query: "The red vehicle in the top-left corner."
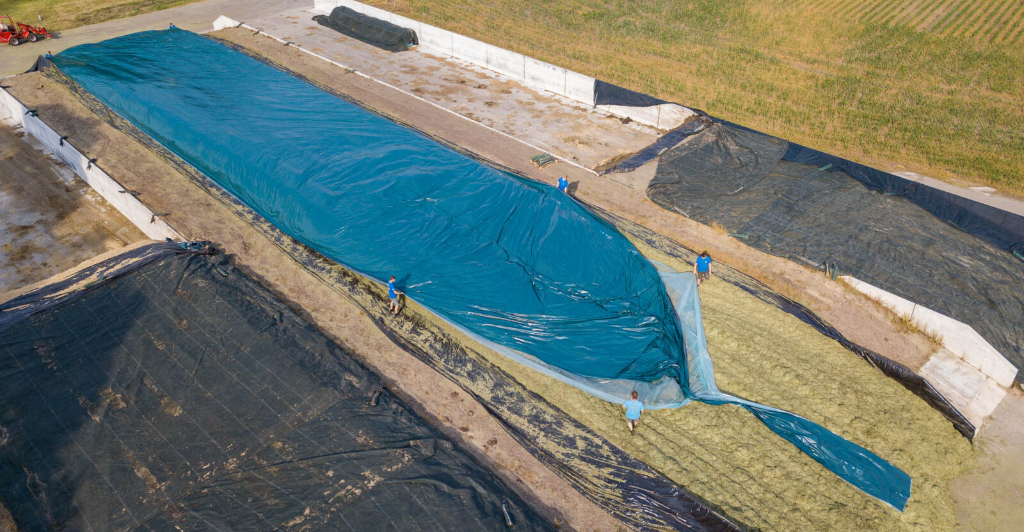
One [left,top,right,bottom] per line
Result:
[0,14,57,44]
